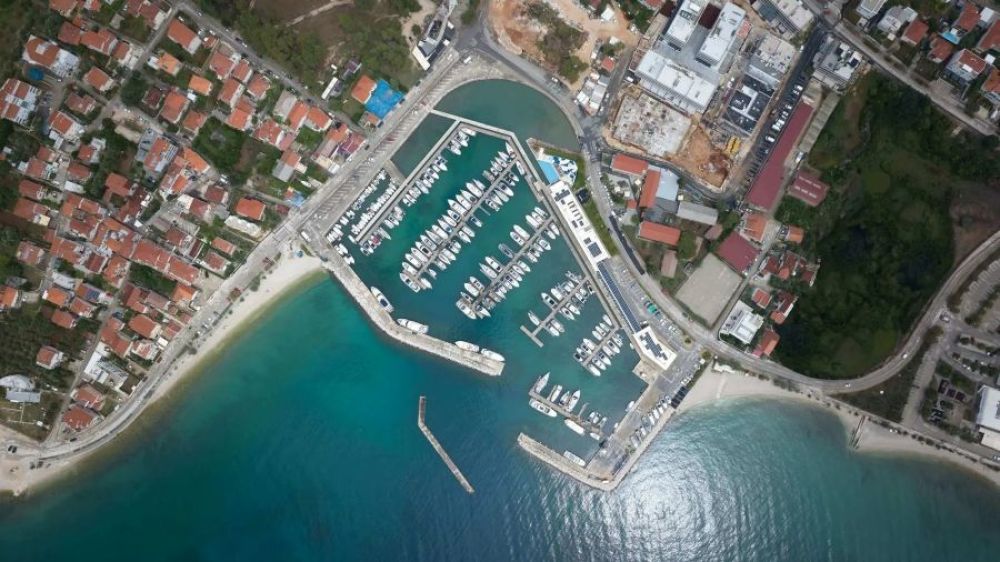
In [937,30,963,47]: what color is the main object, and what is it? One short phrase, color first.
blue swimming pool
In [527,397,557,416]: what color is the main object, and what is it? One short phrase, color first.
white boat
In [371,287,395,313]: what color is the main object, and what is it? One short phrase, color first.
white boat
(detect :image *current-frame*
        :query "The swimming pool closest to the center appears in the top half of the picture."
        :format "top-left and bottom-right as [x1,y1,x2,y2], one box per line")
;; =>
[537,155,577,186]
